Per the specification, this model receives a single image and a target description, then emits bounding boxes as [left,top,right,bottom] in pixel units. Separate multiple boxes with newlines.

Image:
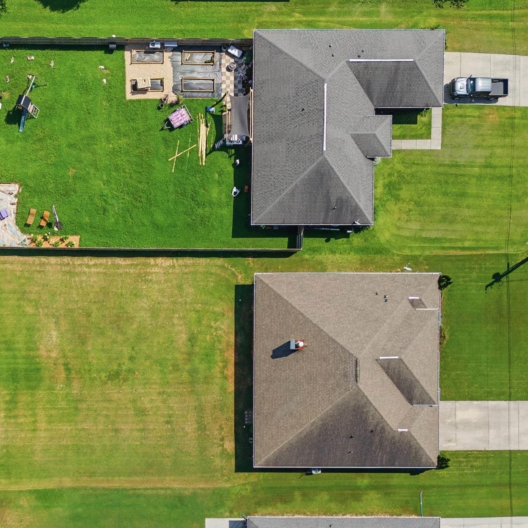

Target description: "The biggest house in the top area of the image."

[250,29,446,226]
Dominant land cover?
grass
